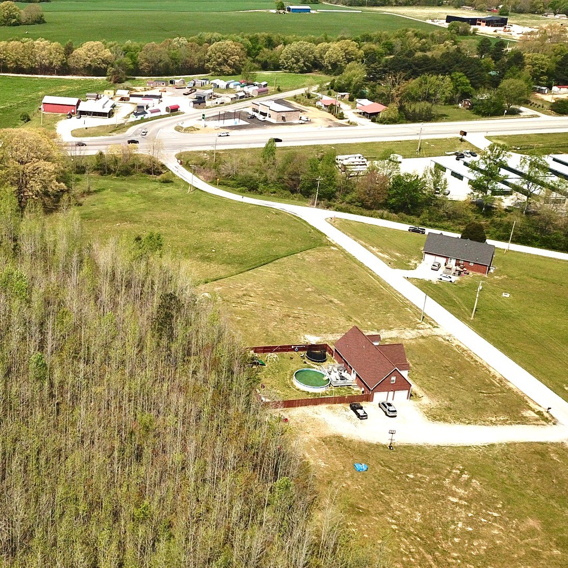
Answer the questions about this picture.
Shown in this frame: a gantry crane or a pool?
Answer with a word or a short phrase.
pool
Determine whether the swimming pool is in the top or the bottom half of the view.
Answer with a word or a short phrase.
bottom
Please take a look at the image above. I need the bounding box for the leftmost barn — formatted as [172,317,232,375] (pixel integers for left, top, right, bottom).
[42,96,79,114]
